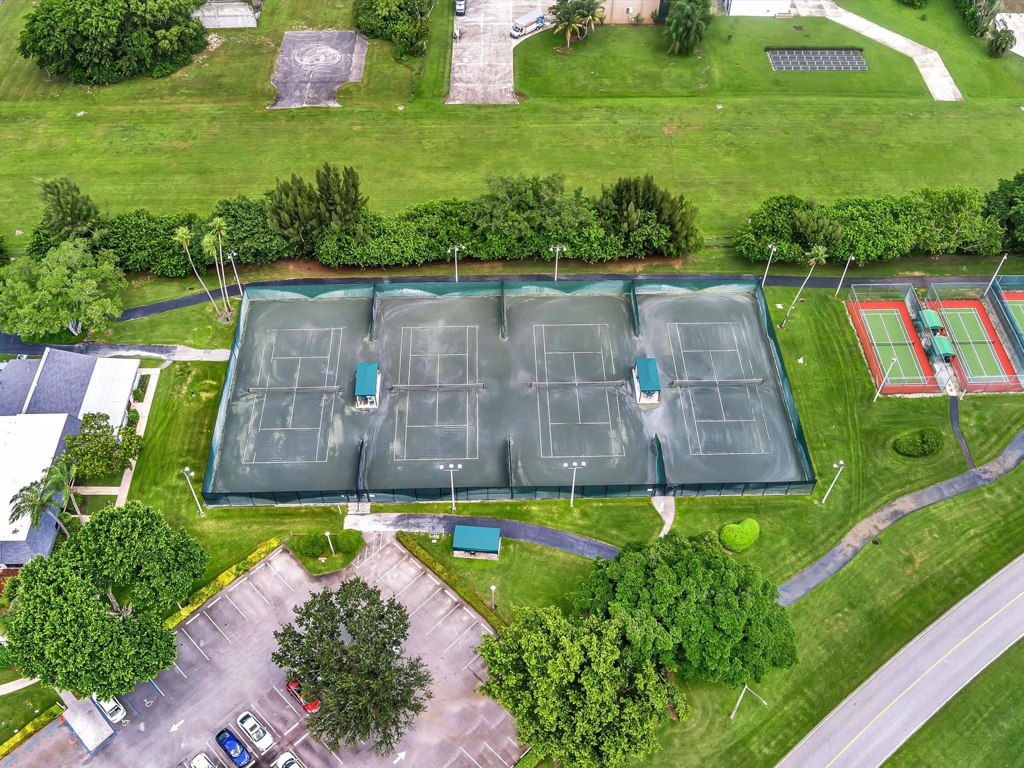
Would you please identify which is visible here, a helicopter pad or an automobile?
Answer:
automobile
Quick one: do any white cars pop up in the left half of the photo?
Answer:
Yes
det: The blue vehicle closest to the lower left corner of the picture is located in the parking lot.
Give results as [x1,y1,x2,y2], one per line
[217,727,253,768]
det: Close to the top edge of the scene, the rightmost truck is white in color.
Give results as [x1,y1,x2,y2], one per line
[514,6,549,37]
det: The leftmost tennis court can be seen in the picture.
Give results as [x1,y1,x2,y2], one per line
[210,298,376,506]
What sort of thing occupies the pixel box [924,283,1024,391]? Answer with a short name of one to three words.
tennis court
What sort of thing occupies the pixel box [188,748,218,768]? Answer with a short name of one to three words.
car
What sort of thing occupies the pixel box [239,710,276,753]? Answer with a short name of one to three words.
car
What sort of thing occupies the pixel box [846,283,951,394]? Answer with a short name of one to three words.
tennis court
